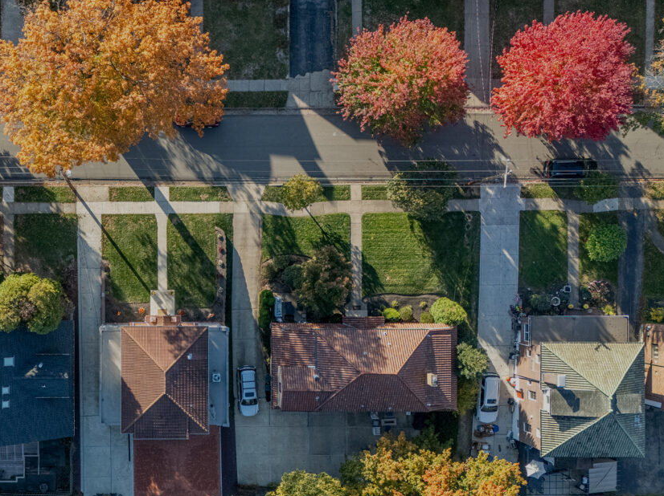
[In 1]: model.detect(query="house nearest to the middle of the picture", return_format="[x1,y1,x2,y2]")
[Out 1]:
[269,305,457,412]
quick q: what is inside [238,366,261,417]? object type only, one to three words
car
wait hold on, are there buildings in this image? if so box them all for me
[0,311,75,445]
[98,314,228,496]
[269,305,457,412]
[517,315,646,458]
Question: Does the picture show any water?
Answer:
No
